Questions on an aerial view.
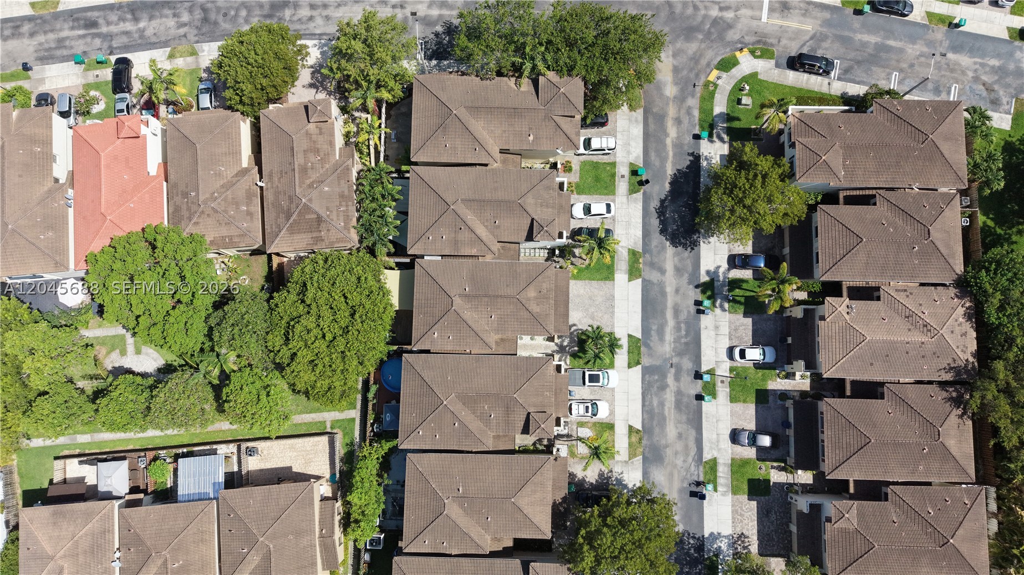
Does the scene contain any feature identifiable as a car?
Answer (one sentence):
Yes, there's a car here.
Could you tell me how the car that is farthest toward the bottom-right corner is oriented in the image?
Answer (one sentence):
The car that is farthest toward the bottom-right corner is laid out from left to right.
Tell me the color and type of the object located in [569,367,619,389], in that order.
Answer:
white truck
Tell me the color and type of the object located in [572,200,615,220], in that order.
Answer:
white car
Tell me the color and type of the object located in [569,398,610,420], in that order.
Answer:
white car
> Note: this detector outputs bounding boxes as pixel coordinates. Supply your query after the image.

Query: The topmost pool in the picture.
[379,352,405,396]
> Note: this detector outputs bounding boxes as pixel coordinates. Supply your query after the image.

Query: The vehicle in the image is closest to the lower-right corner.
[731,428,776,450]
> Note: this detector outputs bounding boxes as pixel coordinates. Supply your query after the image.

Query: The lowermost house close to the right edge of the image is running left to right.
[775,480,992,575]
